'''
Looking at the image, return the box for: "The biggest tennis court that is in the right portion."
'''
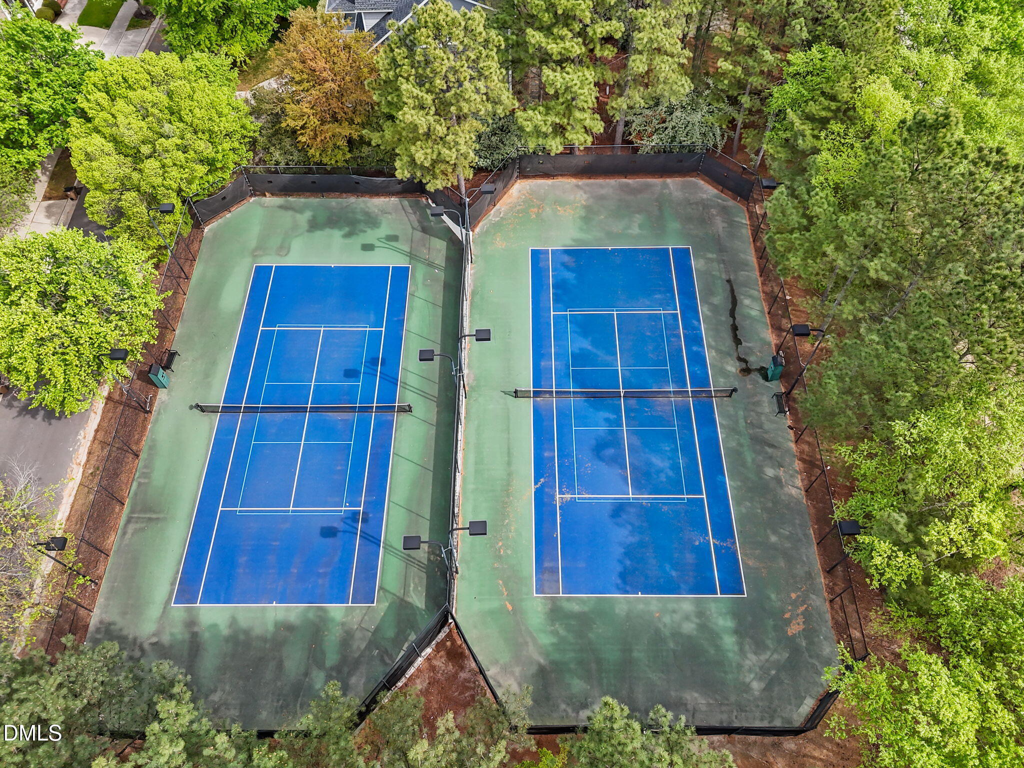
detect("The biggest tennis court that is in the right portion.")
[454,179,838,726]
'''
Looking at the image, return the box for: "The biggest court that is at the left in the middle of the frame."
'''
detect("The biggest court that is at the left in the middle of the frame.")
[80,197,467,726]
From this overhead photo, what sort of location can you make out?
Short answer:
sports ground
